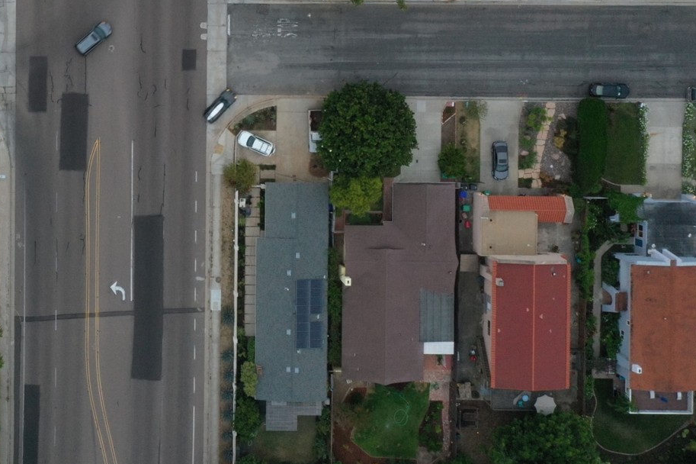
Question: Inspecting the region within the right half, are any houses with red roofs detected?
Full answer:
Yes, a house with a red roof is visible within the right half.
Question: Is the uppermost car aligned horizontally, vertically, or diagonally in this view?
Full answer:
In this picture, the uppermost car lies diagonally.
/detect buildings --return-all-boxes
[594,191,696,414]
[460,190,574,394]
[337,182,460,384]
[255,182,329,431]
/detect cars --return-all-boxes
[685,86,696,101]
[236,129,275,156]
[74,21,112,55]
[201,88,236,123]
[588,82,628,99]
[491,141,509,180]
